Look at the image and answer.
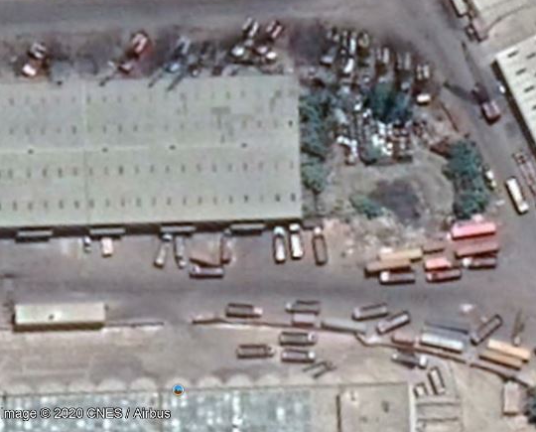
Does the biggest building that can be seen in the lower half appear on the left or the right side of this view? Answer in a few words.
left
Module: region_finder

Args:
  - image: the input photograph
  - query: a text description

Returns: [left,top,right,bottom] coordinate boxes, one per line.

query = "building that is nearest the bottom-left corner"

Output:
[14,302,103,325]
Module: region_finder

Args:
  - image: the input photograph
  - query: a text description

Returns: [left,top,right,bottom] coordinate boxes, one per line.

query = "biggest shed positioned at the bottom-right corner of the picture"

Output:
[502,382,519,413]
